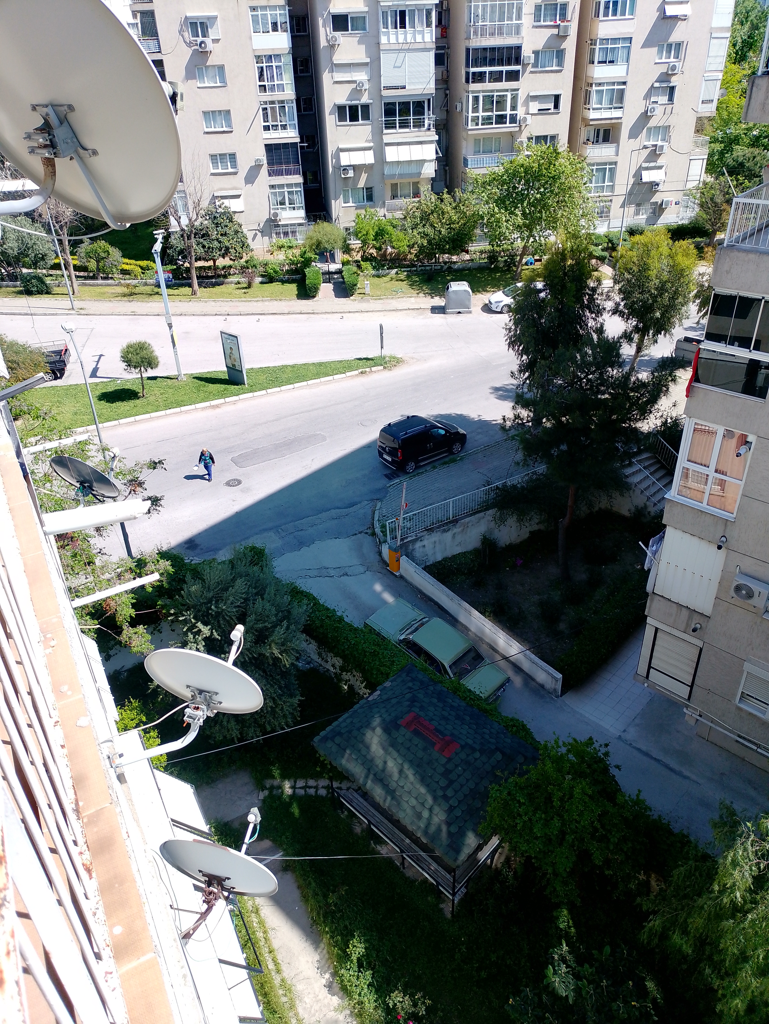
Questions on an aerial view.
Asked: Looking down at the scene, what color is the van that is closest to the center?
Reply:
black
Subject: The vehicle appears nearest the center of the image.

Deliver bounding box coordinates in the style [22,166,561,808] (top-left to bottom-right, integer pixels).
[376,414,468,474]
